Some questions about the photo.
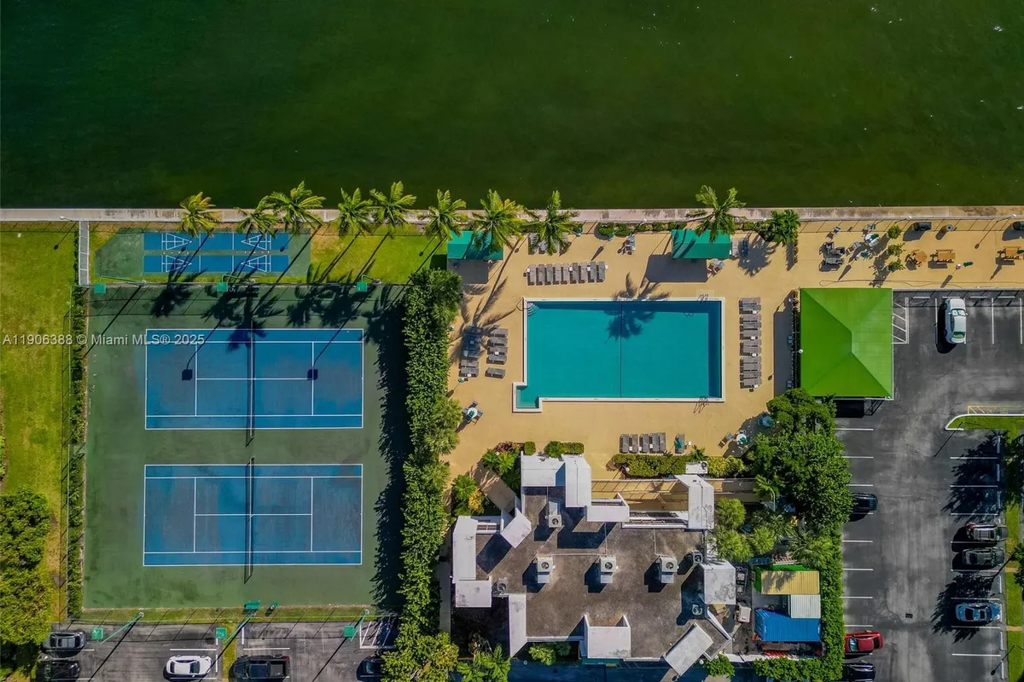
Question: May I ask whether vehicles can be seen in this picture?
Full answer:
Yes, there's a vehicle down there.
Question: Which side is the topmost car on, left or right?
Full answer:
It is on the right.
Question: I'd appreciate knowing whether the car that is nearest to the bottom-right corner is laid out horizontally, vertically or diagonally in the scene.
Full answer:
I'd say the car that is nearest to the bottom-right corner is aligned horizontally in the picture.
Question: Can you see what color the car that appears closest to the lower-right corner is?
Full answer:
The car that appears closest to the lower-right corner looks blue in the image.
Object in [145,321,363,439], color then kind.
blue tennis court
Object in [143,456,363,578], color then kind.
blue tennis court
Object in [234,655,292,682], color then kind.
black truck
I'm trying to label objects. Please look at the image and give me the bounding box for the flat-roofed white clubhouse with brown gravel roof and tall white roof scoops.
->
[453,447,736,677]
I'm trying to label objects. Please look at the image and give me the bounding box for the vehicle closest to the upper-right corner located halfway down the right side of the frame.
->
[942,298,966,343]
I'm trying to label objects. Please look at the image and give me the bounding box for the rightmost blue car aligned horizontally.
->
[953,601,999,623]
